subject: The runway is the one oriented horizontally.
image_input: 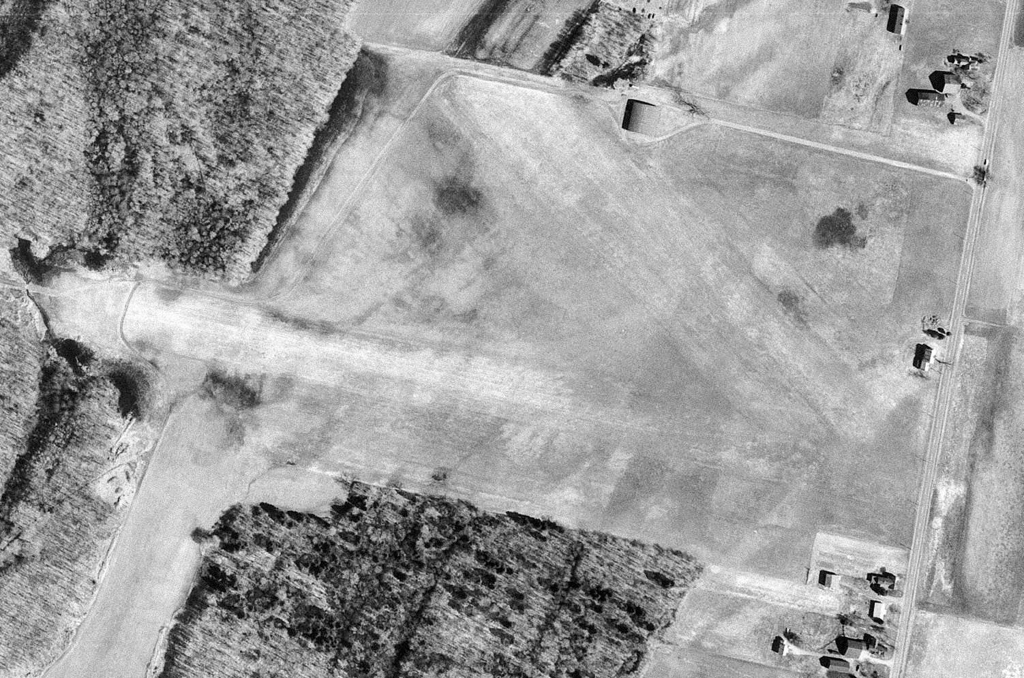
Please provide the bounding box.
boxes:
[136,296,583,418]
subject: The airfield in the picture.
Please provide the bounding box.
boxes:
[136,73,868,435]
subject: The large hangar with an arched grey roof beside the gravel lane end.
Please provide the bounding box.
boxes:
[627,101,661,136]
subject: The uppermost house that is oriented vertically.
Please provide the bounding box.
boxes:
[896,6,911,34]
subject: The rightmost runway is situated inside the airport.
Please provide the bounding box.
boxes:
[461,73,868,435]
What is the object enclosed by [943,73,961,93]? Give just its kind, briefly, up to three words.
barn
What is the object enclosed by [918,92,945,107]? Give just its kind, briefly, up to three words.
barn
